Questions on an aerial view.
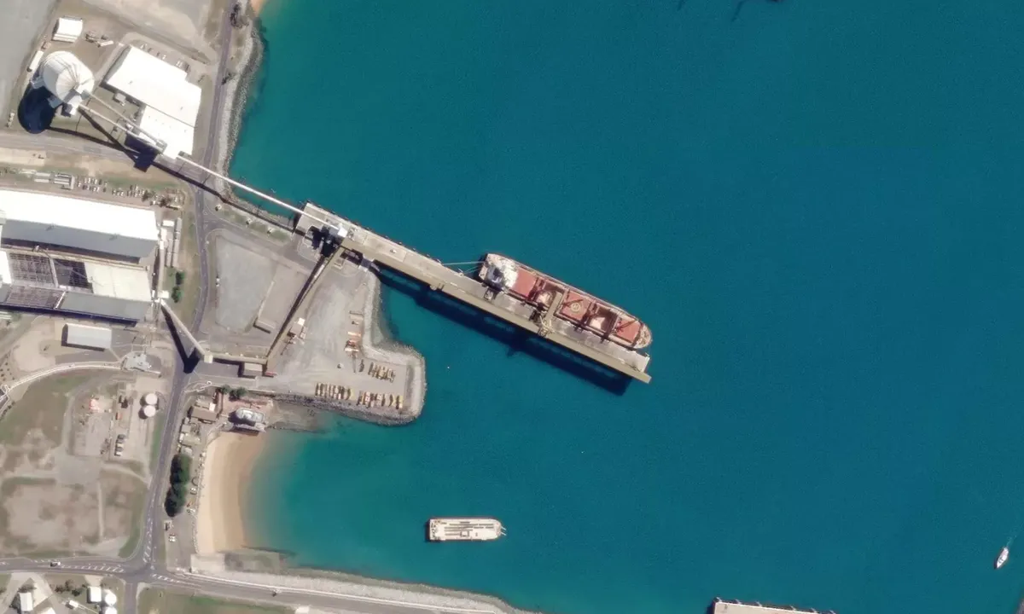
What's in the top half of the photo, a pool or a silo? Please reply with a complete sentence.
What appears in the top half of the photo is a silo.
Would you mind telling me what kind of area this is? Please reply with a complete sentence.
The area seen from above is a port.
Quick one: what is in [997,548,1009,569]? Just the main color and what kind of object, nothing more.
white boat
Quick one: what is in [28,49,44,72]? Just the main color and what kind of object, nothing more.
white vehicle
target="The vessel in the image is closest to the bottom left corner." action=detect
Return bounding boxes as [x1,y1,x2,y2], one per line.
[430,518,506,541]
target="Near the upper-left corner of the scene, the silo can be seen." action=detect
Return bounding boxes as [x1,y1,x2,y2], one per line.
[42,51,93,104]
